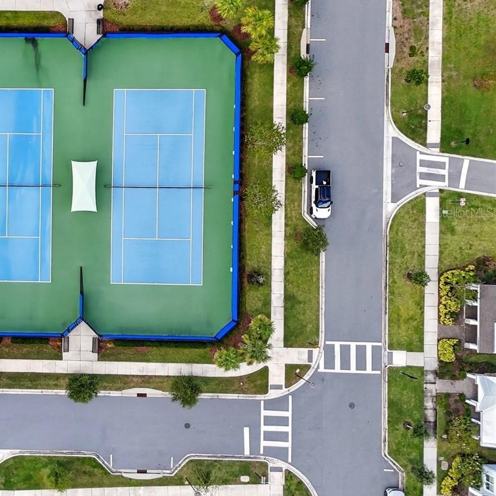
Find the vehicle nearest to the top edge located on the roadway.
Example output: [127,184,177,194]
[311,170,333,218]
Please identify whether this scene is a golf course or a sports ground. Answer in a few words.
sports ground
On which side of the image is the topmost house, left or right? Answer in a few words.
right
